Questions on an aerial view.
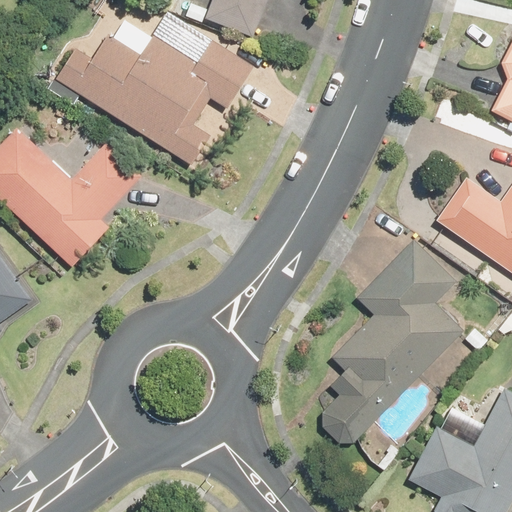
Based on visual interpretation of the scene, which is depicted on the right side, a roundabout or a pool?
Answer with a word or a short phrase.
pool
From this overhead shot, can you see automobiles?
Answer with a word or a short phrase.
Yes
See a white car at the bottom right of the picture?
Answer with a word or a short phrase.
No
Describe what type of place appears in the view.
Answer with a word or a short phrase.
residential area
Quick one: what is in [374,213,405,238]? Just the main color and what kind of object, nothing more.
white car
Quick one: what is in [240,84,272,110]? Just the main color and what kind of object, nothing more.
white car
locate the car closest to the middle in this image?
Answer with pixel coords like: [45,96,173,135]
[285,150,306,180]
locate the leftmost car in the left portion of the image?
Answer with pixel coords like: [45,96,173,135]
[128,190,160,206]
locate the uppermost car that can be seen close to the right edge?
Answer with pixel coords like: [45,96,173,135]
[464,25,494,48]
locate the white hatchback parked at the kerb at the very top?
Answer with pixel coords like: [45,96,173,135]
[352,0,372,26]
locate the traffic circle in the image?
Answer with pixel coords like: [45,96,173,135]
[136,345,215,422]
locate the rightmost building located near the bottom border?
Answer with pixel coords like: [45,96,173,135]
[408,388,512,512]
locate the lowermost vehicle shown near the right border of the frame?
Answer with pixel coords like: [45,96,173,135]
[477,168,502,197]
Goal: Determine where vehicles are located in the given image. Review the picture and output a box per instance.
[322,72,343,106]
[236,47,264,68]
[464,25,494,48]
[477,168,502,197]
[374,213,405,238]
[352,0,372,26]
[240,84,272,110]
[470,78,502,96]
[285,150,306,180]
[128,190,160,206]
[490,149,512,168]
